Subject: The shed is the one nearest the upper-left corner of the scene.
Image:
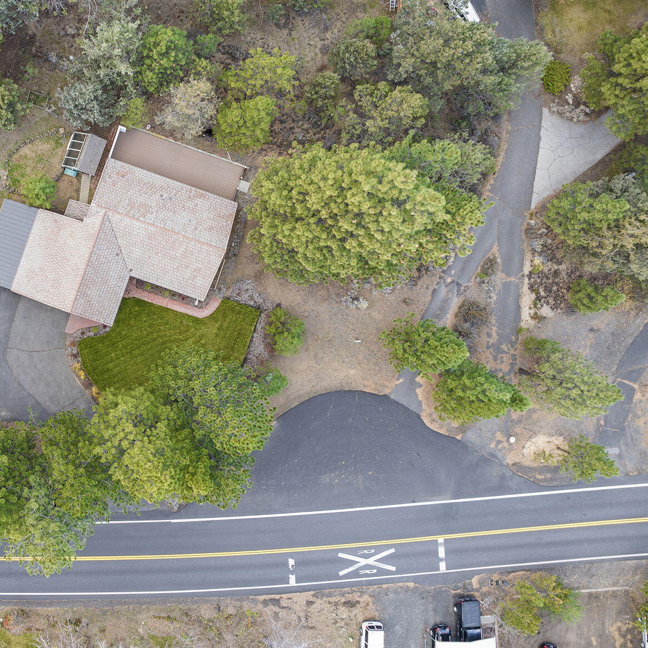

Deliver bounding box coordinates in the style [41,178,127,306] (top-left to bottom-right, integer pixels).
[61,131,106,180]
